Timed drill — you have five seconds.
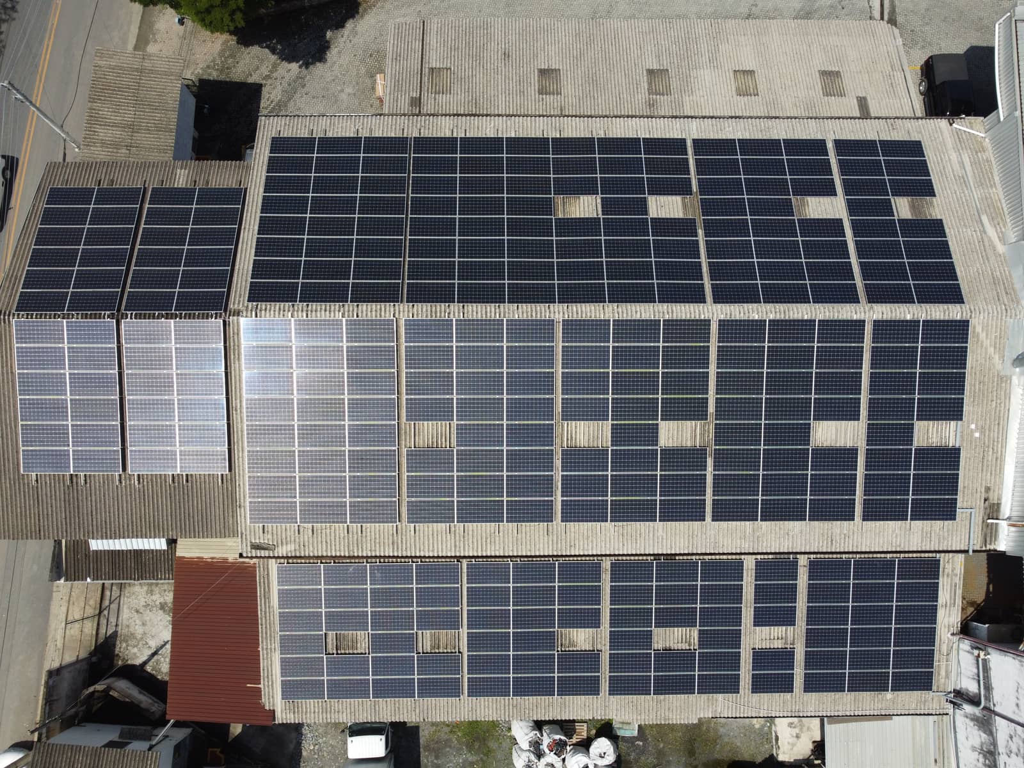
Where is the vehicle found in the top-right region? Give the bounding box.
[921,61,975,120]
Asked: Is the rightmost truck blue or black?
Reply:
black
